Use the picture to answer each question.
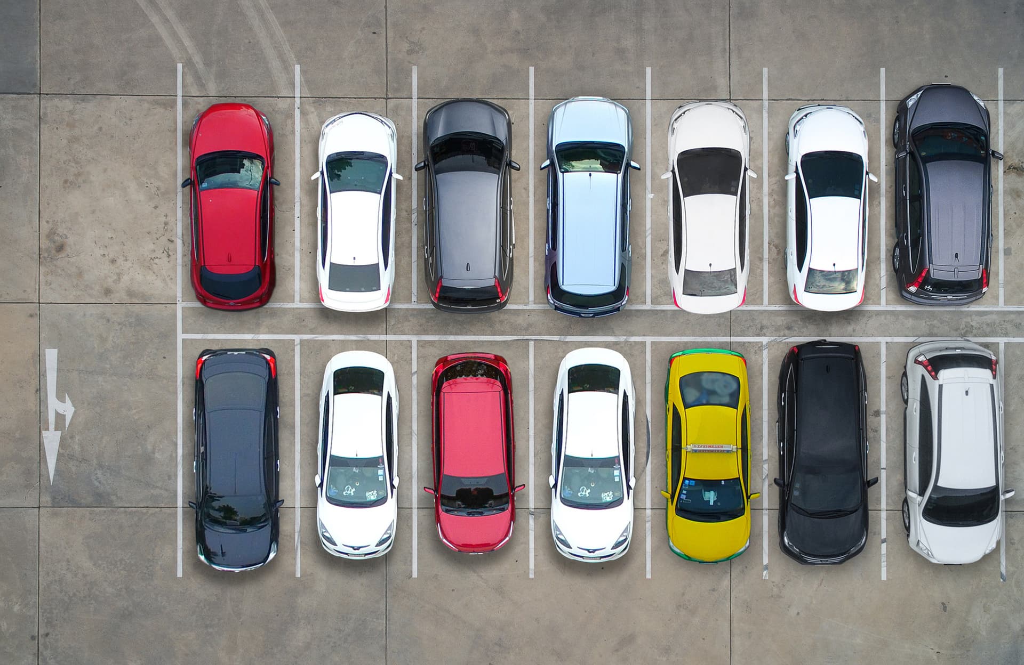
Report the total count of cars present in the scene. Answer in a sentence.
The count of cars comes to 14.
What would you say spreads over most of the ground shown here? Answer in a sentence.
Most of the picture is covered by paved ground.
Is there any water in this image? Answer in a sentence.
No, there's no water in this view.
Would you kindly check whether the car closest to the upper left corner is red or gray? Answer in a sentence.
In this view, the car closest to the upper left corner is red.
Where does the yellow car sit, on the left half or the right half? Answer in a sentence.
It is on the right.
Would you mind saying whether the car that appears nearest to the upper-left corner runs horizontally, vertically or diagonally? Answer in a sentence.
In this picture, the car that appears nearest to the upper-left corner is oriented vertically.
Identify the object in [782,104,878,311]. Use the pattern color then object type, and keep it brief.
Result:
white car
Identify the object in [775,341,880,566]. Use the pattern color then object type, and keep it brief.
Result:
black car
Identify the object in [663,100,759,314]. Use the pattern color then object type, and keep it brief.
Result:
white car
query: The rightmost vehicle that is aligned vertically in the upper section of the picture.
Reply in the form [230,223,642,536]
[895,81,1002,305]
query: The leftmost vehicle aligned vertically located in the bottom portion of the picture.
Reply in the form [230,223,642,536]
[188,349,283,571]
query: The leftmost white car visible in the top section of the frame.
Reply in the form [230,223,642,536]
[311,111,402,311]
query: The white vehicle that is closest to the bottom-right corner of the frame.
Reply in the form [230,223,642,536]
[905,341,1012,568]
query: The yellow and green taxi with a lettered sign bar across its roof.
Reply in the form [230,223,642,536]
[662,349,760,566]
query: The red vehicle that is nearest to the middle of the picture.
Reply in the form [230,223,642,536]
[424,353,525,553]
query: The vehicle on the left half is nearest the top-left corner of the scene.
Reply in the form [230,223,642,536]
[181,103,279,311]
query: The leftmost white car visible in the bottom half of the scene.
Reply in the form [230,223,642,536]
[313,351,401,559]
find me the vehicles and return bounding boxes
[775,341,880,566]
[311,111,402,311]
[550,348,638,562]
[188,349,283,571]
[313,351,401,559]
[424,353,525,553]
[782,104,878,311]
[662,349,760,566]
[663,100,759,314]
[905,341,1012,568]
[895,81,1002,305]
[415,98,521,314]
[541,97,641,318]
[181,103,279,311]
